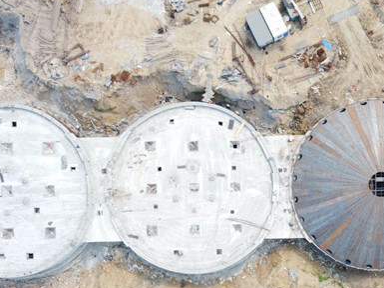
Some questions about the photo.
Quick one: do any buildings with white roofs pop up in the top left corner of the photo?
No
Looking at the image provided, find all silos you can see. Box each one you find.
[0,105,93,278]
[290,98,384,272]
[104,101,276,274]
